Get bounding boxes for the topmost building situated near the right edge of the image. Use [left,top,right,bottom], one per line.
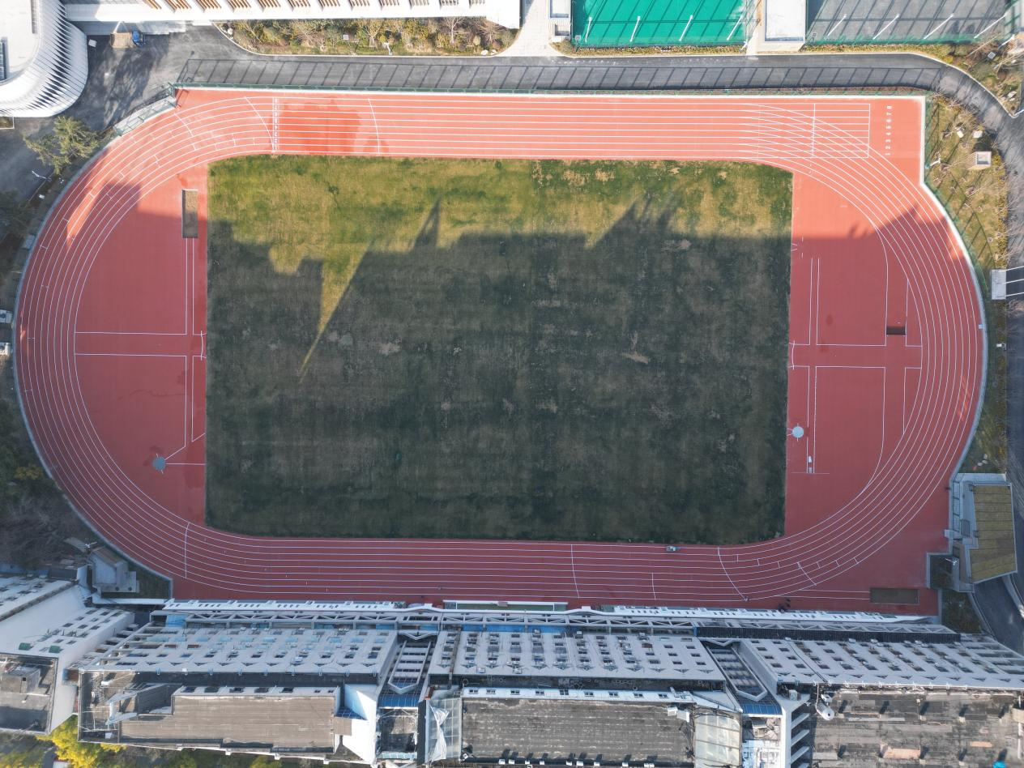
[943,472,1018,592]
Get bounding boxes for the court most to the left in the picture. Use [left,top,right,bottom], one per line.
[573,0,756,43]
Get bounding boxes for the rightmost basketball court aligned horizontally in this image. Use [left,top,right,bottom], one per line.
[809,0,1008,44]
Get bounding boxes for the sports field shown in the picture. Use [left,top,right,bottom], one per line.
[205,153,795,547]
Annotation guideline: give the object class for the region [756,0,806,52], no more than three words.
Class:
building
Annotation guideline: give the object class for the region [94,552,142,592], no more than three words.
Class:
house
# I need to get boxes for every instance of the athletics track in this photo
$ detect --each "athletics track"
[12,86,988,626]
